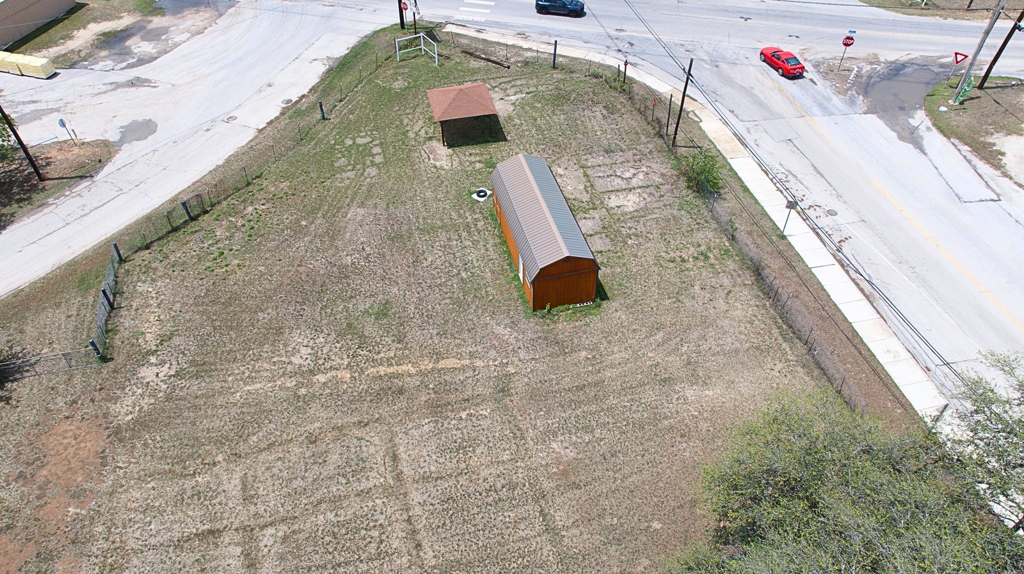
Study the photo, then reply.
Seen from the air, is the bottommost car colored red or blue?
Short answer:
red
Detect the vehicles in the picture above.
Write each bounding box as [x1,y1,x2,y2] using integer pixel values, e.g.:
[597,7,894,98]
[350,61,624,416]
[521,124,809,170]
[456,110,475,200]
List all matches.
[534,0,587,17]
[757,44,809,78]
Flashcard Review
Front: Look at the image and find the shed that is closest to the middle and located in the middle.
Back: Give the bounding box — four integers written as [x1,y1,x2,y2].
[492,151,603,310]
